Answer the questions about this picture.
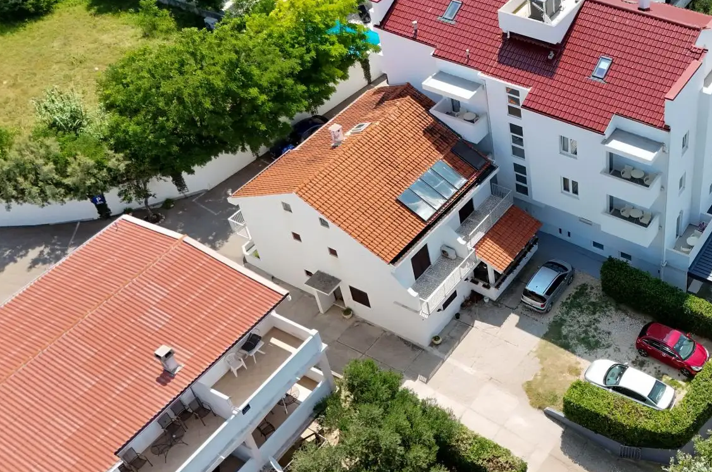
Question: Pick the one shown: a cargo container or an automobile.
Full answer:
The one in the frame is an automobile.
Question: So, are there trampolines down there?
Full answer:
No, no trampoline can be seen from above.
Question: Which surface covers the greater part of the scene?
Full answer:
The largest share of the image is taken up by buildings.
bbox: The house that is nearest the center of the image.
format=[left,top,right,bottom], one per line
[215,85,548,339]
